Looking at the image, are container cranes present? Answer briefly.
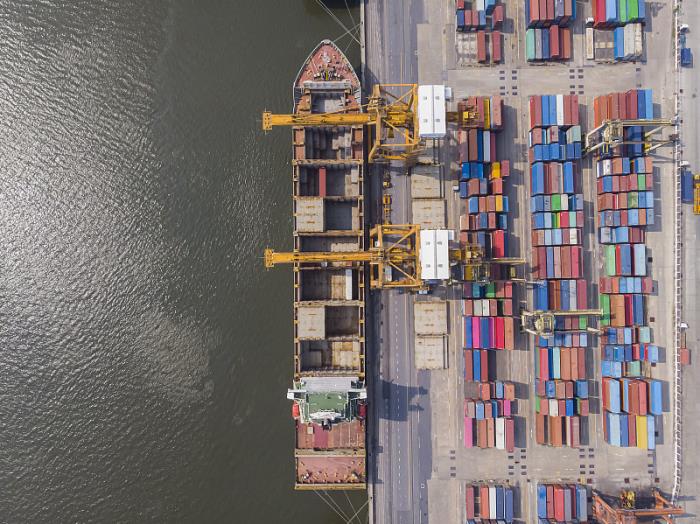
Yes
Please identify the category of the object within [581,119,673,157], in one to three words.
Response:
container crane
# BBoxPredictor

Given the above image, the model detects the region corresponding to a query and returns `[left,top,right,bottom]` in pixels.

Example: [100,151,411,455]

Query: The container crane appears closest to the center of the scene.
[262,223,482,292]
